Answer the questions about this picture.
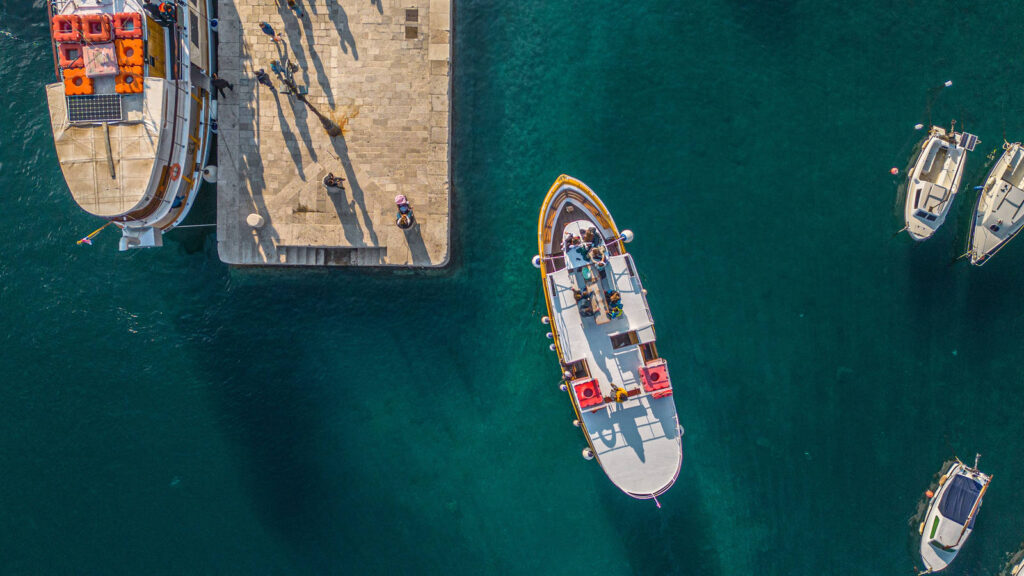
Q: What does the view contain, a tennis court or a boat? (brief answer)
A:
boat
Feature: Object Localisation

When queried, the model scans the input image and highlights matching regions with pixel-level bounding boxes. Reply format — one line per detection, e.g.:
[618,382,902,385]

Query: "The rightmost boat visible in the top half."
[968,141,1024,267]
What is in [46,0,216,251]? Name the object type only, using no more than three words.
ship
